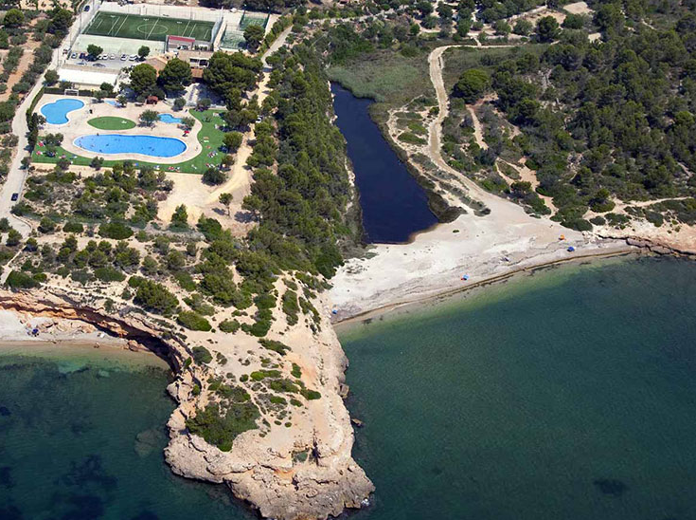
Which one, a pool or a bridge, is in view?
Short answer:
pool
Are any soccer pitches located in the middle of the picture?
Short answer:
No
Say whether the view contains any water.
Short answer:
Yes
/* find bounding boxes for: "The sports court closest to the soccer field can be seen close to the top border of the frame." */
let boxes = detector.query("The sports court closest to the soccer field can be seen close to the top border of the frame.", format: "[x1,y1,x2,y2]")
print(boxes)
[220,24,248,49]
